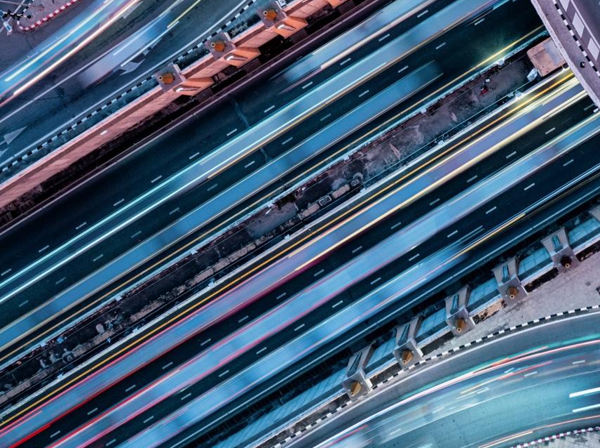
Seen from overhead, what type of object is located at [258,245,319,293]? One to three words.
car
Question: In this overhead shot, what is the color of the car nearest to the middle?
blue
